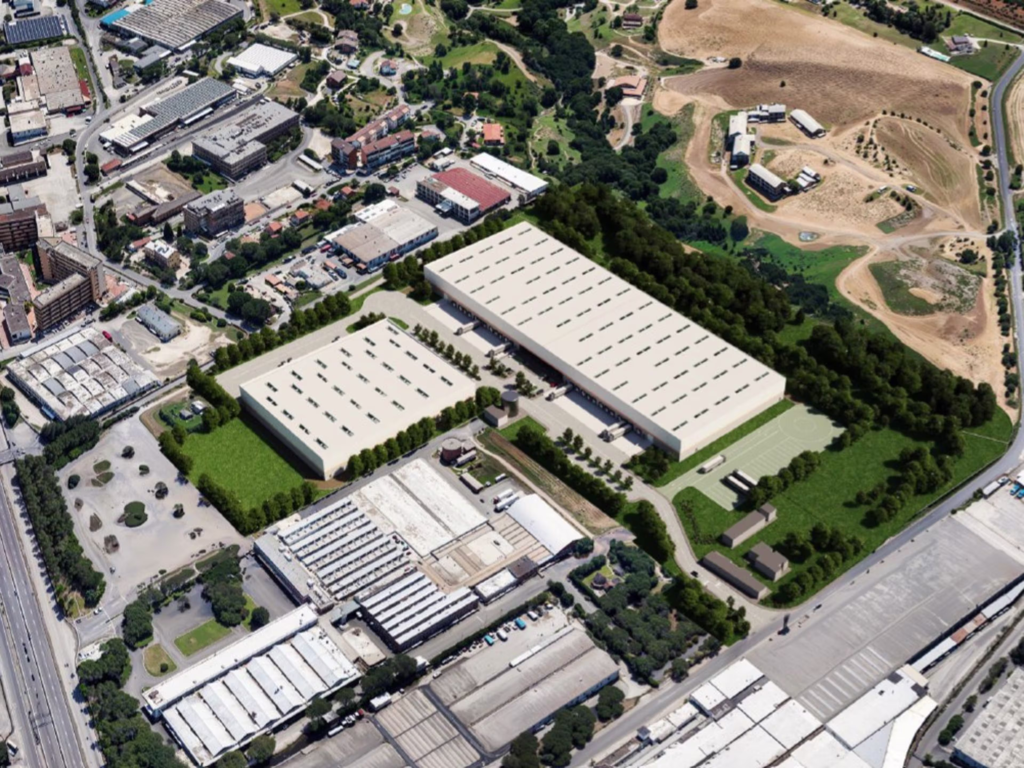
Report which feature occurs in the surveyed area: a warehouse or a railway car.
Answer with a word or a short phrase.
warehouse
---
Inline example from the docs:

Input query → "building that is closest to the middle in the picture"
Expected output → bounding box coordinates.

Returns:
[485,404,509,426]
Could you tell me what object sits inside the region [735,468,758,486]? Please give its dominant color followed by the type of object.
white vehicle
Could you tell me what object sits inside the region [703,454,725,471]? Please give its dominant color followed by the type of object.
white vehicle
